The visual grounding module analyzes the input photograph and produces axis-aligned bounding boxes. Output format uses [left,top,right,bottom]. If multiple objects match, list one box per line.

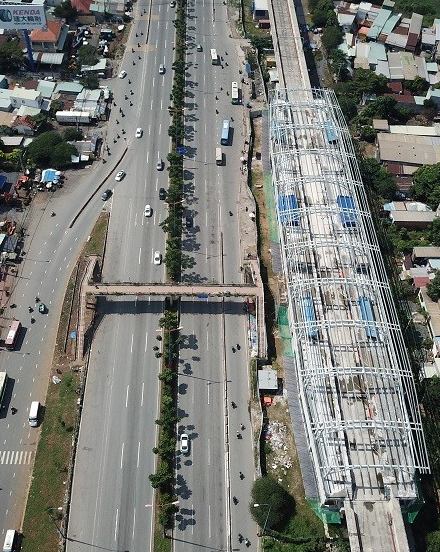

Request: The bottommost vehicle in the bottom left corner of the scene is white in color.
[2,526,17,552]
